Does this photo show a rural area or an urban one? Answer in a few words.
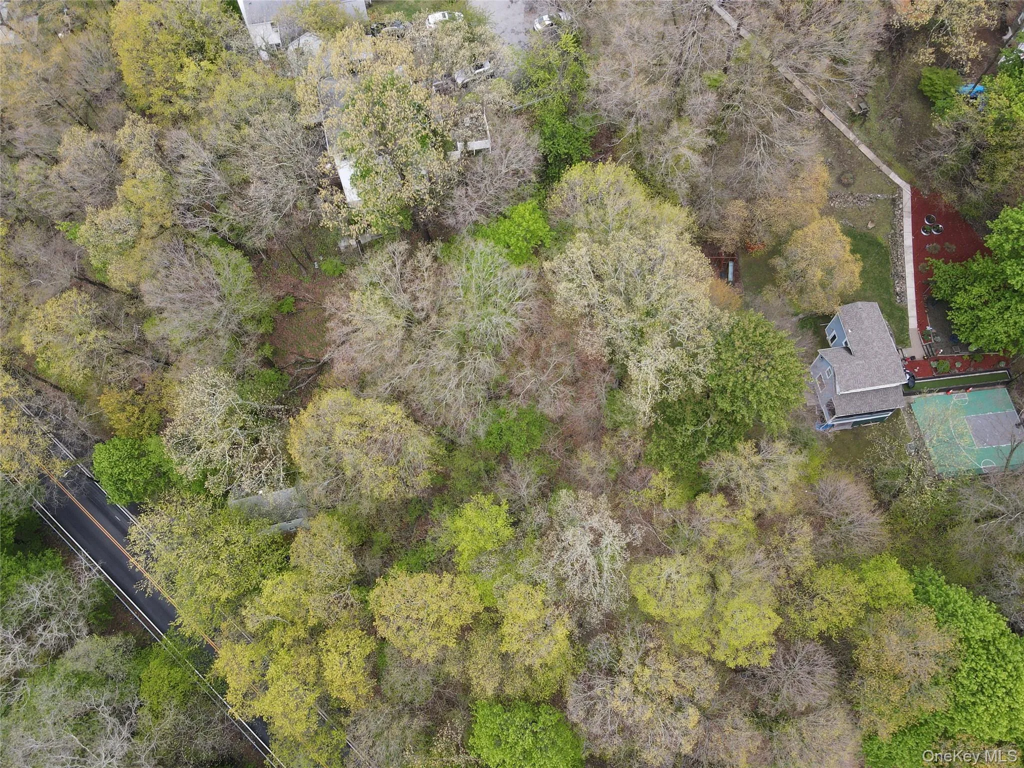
rural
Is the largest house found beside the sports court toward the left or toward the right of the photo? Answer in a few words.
right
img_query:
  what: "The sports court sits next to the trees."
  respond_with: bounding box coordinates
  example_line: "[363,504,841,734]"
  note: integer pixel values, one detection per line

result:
[911,388,1024,475]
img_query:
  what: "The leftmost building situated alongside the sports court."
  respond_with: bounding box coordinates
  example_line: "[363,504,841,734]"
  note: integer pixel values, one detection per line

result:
[808,302,908,431]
